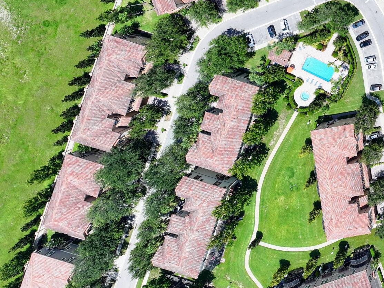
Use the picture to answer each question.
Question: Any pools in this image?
Yes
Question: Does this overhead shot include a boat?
No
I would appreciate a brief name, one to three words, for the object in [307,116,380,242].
building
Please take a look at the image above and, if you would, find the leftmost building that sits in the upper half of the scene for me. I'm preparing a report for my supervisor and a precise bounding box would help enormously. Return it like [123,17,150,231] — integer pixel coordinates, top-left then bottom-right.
[71,33,162,153]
